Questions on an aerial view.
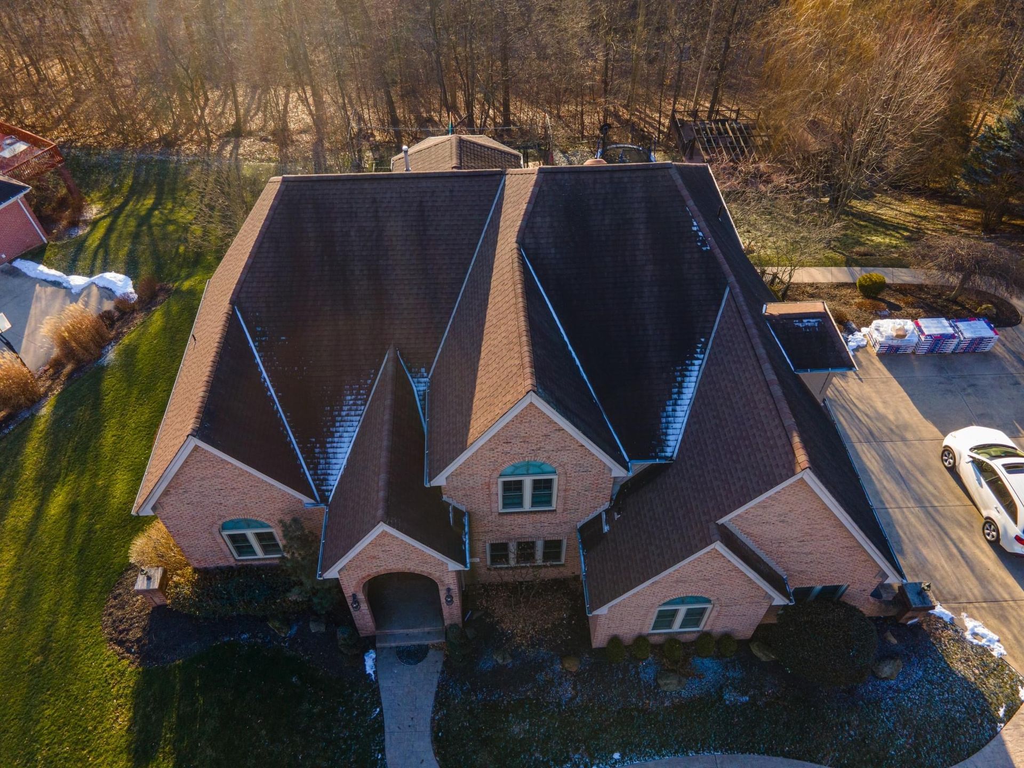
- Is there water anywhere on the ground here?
No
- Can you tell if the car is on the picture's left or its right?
right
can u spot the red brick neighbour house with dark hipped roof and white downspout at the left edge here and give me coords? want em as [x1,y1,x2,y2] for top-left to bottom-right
[0,167,50,271]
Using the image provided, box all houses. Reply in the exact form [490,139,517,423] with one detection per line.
[0,167,50,271]
[137,134,903,647]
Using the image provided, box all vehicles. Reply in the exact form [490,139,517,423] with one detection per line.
[942,429,1024,566]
